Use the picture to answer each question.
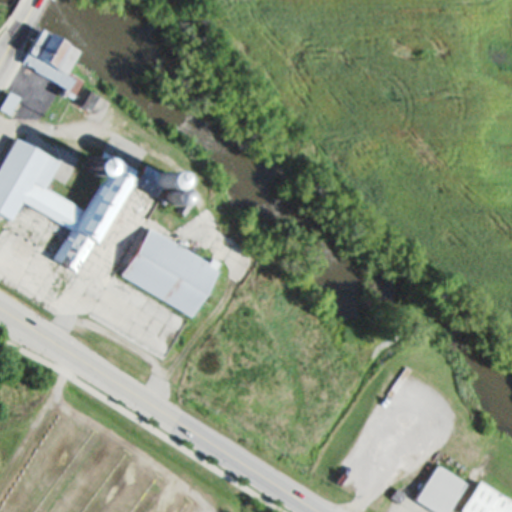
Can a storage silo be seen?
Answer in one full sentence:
Yes, the photo shows a storage silo.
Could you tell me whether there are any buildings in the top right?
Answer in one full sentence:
No, no building appears in the top right.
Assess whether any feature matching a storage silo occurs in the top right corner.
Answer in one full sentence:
No, no storage silo appears in the top right corner.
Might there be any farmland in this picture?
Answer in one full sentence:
Yes, there's farmland in this view.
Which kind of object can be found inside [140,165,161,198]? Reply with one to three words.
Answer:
shed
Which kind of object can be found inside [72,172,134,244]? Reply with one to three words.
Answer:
barn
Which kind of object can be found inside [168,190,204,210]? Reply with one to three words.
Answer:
silo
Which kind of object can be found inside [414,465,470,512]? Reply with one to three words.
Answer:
building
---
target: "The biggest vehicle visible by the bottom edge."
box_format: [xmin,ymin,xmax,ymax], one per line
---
[338,467,351,488]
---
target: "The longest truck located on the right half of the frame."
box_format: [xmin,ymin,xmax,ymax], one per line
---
[386,366,408,401]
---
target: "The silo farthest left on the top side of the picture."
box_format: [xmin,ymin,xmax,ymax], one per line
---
[83,157,126,180]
